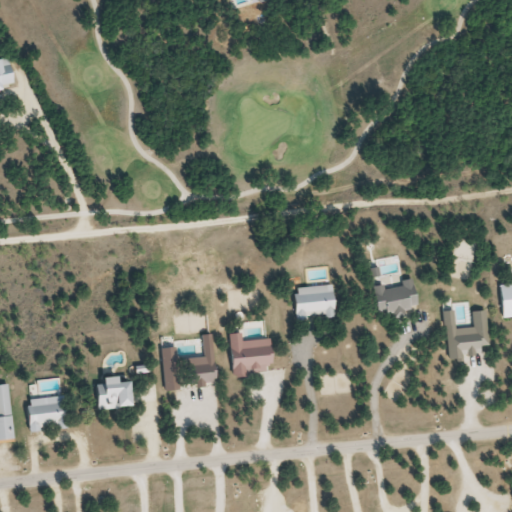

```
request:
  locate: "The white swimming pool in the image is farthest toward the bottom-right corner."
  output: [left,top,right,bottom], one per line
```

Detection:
[451,302,471,326]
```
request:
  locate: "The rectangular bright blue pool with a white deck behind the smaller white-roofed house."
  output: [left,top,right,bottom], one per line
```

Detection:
[29,378,60,396]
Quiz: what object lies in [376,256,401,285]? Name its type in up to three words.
swimming pool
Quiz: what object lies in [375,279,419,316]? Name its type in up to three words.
house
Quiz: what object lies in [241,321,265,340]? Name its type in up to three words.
swimming pool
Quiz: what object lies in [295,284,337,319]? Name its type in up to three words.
house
